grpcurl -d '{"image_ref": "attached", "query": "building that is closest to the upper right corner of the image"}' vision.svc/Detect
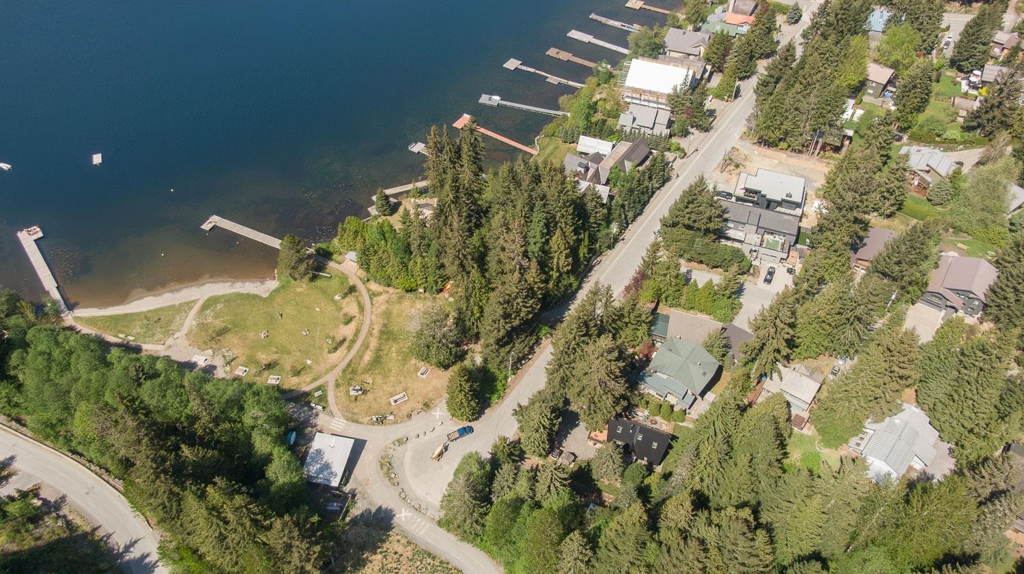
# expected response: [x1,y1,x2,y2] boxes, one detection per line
[986,31,1019,64]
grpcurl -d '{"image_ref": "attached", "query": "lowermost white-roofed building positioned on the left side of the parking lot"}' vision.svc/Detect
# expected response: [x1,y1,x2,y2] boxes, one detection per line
[305,433,355,490]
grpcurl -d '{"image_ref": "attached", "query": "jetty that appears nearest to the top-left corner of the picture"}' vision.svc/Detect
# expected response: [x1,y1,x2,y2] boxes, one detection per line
[18,226,72,311]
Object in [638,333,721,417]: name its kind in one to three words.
house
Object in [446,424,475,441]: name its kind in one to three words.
vehicle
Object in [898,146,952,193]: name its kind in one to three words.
house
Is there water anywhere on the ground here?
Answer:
Yes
